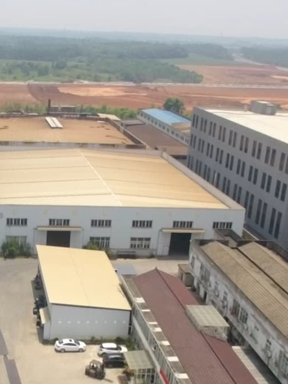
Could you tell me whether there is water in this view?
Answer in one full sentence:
No, the scene doesn't show any water.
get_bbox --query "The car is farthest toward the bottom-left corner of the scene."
[53,339,86,353]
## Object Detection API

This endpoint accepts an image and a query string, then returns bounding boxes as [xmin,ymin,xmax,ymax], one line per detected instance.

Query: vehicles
[99,353,129,366]
[86,359,106,381]
[53,339,86,353]
[94,341,125,356]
